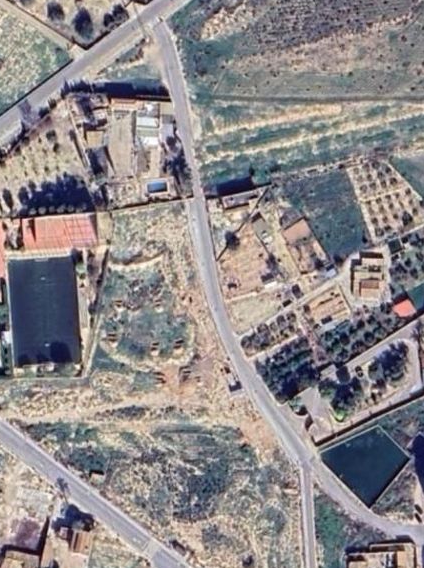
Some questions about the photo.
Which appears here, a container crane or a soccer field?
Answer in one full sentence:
Visible in the photo is a soccer field.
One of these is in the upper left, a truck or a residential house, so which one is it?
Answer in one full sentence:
There is a residential house in the upper left.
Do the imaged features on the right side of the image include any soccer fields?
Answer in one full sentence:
No, no soccer field can be made out on the right side of the image.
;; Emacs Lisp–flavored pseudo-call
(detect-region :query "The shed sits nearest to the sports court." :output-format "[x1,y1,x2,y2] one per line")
[88,146,115,175]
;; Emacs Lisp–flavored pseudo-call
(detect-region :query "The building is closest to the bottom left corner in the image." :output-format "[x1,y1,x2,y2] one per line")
[1,552,40,568]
